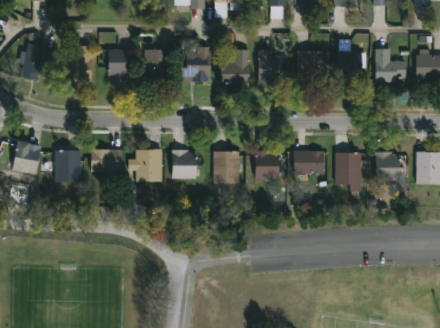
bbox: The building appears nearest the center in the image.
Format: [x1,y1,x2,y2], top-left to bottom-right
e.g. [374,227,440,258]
[213,150,240,184]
